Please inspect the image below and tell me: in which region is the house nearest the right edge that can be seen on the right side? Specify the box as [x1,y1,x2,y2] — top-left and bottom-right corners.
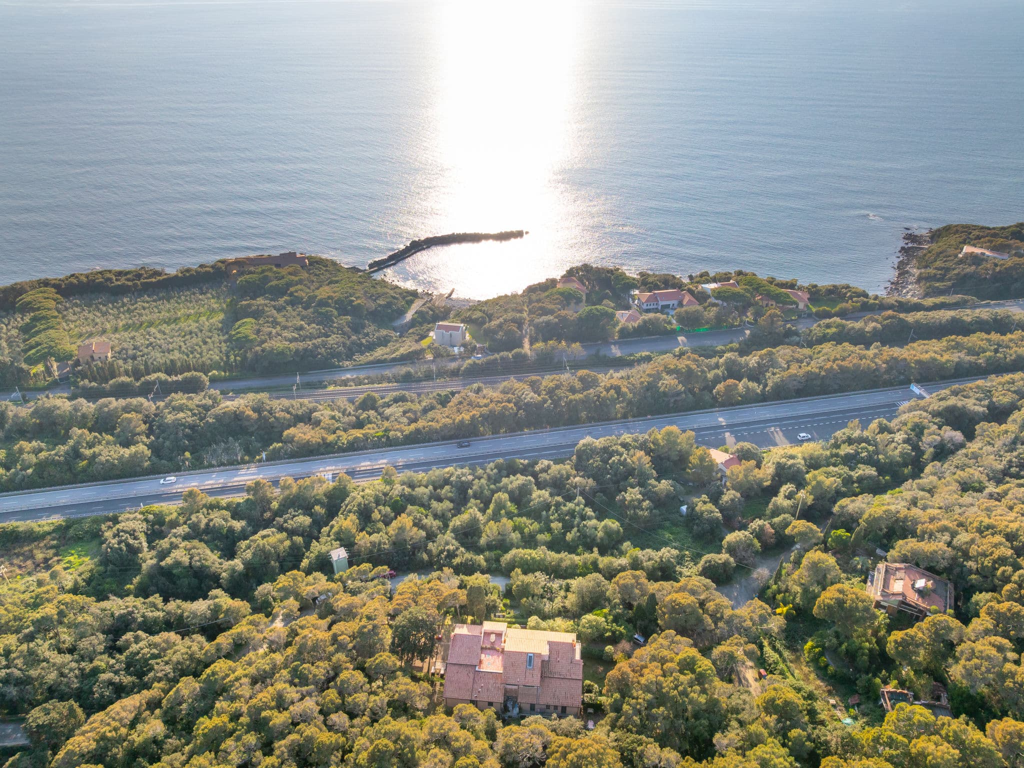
[958,243,1014,262]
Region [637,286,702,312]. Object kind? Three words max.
house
